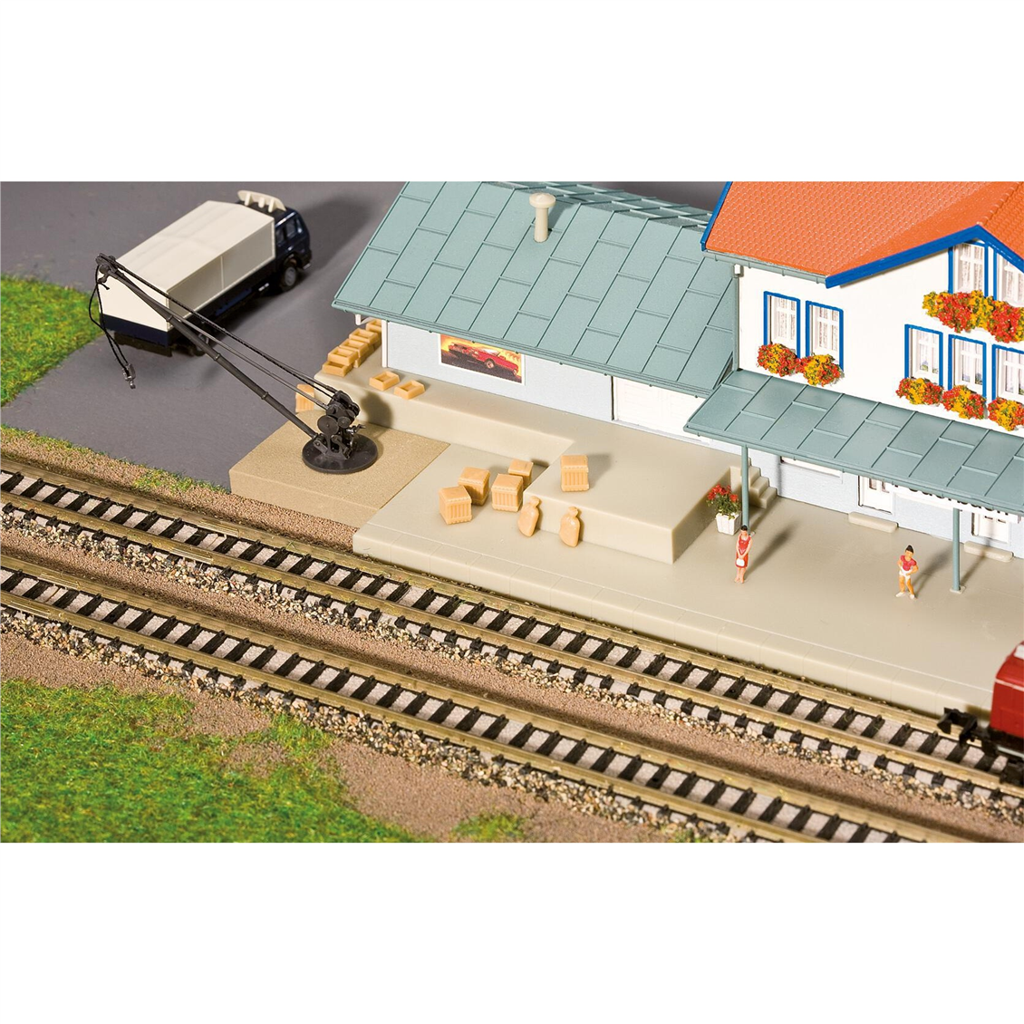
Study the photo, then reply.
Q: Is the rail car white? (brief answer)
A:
No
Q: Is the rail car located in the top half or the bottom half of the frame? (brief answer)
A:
bottom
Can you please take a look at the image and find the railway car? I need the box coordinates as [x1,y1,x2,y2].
[933,632,1024,782]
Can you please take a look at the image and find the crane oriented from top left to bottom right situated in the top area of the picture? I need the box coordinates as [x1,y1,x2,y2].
[85,249,378,473]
